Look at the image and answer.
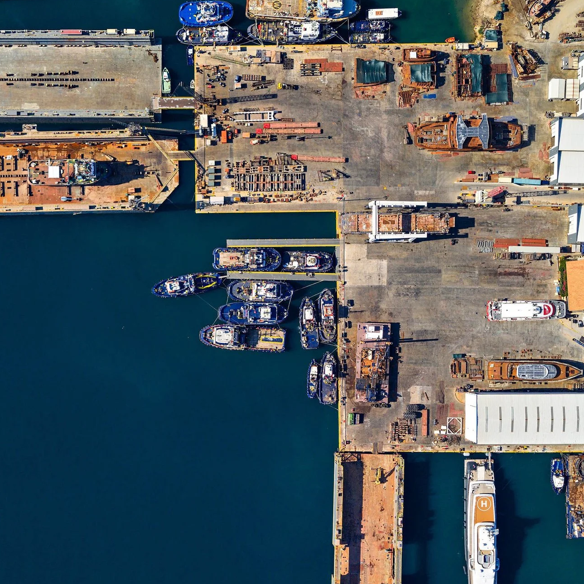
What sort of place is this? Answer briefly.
port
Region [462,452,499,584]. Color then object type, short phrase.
white boat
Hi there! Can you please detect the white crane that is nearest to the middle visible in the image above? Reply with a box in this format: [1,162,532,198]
[361,200,427,246]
